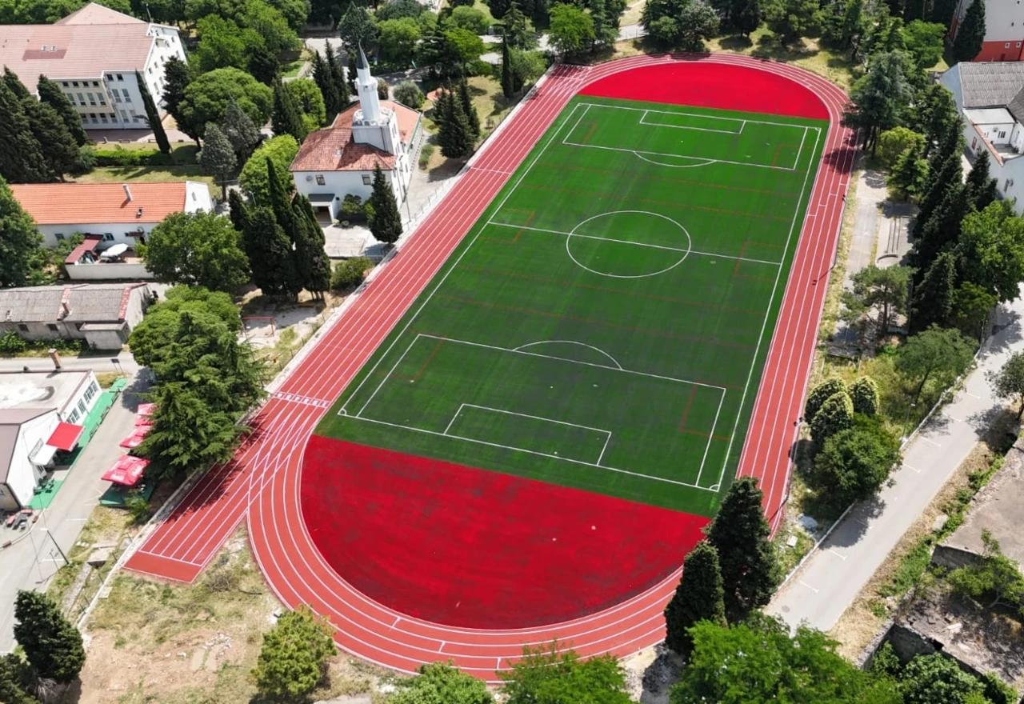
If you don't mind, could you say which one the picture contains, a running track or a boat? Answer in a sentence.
I can see a running track in this picture.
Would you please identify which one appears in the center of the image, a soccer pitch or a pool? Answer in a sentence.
There is a soccer pitch in the center of the image.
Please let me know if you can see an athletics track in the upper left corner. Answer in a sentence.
No, I see no athletics track in the upper left corner.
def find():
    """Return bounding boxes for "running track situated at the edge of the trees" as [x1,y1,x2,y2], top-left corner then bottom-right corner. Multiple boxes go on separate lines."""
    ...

[245,52,860,687]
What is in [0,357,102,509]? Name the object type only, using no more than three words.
building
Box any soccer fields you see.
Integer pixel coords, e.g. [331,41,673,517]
[314,95,828,520]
